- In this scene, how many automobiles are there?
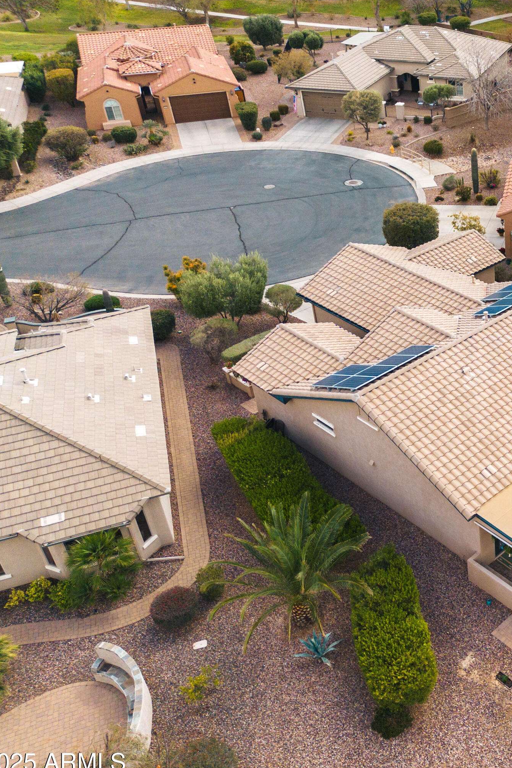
0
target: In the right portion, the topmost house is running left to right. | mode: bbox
[285,25,512,118]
